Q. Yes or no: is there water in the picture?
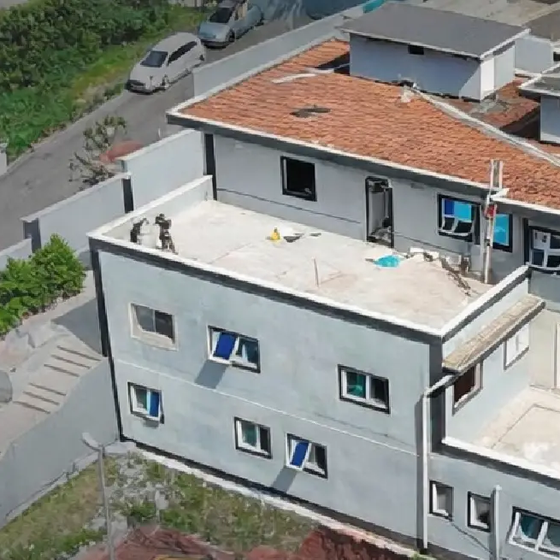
No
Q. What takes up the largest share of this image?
buildings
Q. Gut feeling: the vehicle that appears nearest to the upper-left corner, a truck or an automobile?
automobile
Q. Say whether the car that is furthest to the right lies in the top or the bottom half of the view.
top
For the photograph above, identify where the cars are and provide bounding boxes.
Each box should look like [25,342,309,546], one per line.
[119,30,207,98]
[191,0,270,51]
